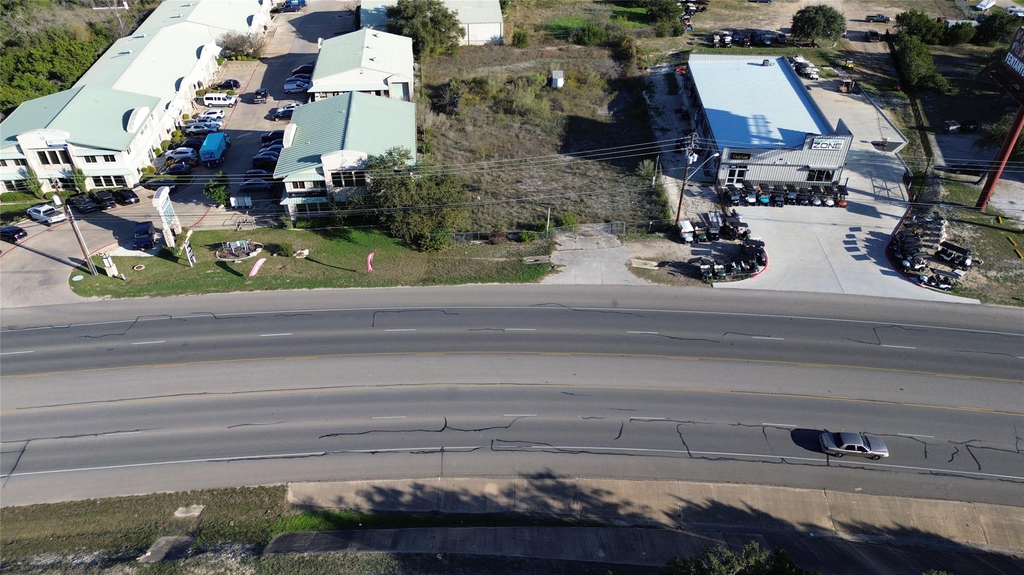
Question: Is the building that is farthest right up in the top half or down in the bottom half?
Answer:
top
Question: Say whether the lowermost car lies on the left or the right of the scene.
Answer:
right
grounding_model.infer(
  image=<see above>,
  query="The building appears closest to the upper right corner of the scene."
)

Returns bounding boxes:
[690,55,861,191]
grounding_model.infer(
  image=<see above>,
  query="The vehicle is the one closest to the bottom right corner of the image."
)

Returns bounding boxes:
[822,433,896,462]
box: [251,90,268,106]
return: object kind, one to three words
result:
vehicle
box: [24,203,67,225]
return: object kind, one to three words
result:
truck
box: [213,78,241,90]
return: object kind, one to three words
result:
vehicle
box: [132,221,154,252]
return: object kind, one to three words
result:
truck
